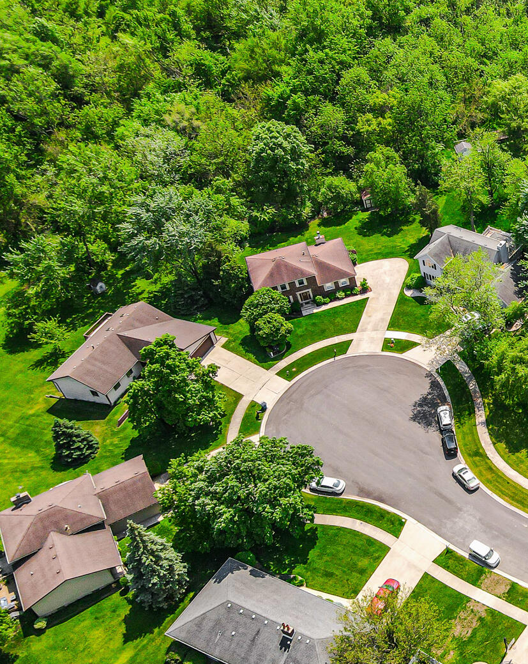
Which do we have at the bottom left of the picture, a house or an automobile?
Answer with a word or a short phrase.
house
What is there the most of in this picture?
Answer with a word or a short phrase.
trees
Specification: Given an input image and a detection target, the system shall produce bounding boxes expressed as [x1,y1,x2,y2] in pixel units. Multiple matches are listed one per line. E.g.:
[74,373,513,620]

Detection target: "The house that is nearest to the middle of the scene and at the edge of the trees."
[245,231,353,312]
